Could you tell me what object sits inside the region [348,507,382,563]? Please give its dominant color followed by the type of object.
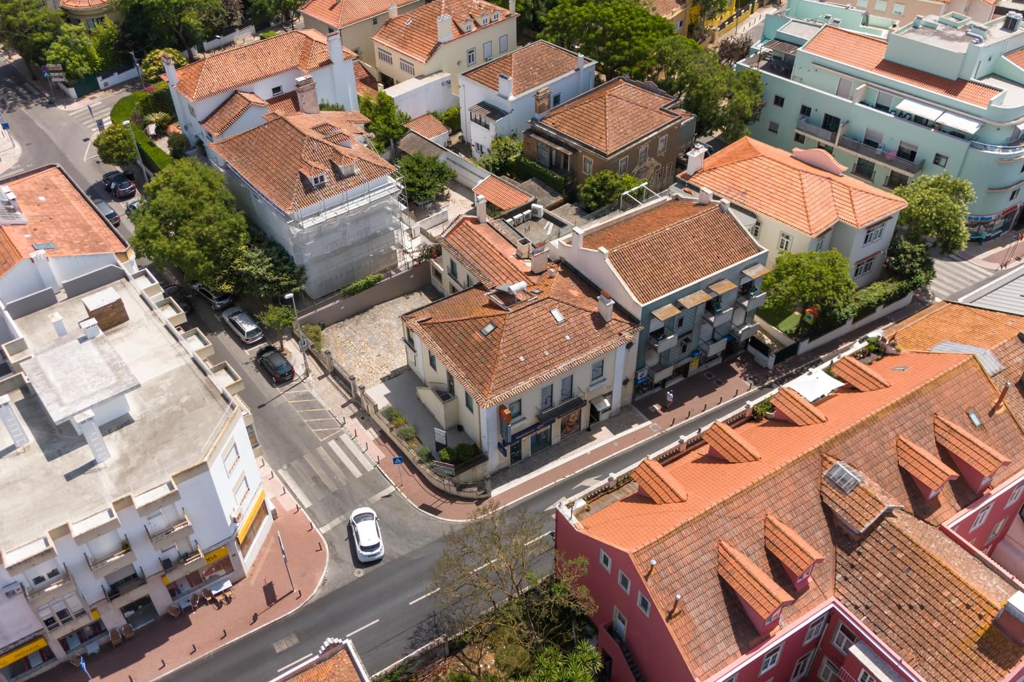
white car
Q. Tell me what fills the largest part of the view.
buildings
